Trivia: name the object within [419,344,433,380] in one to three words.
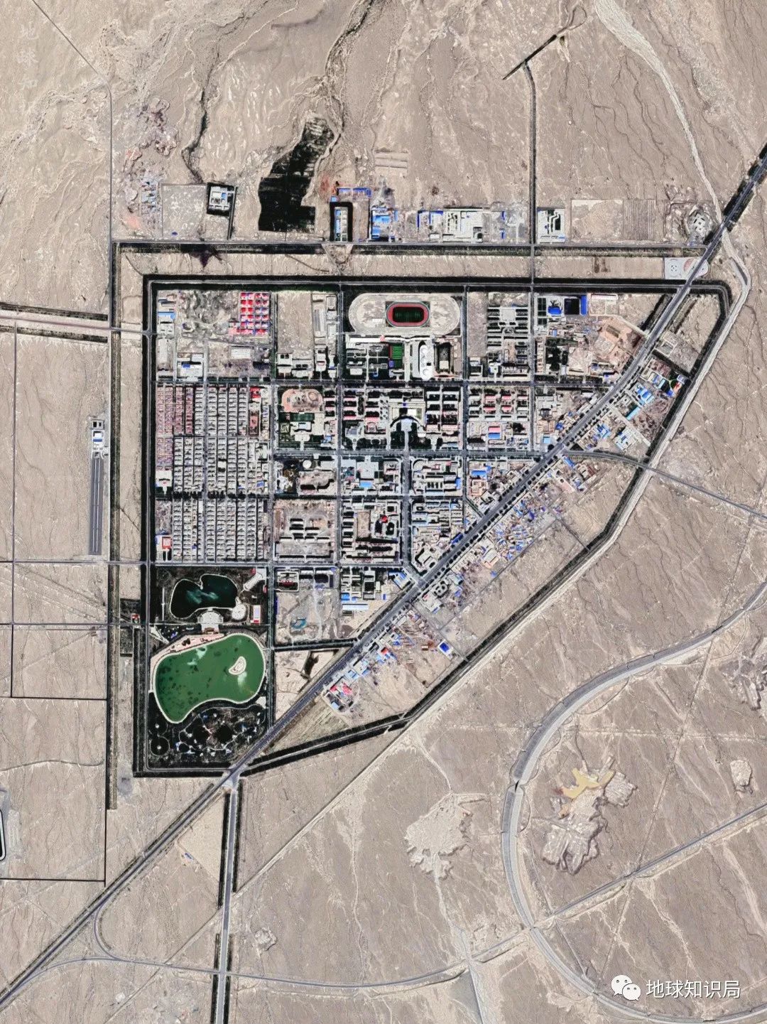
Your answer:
building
